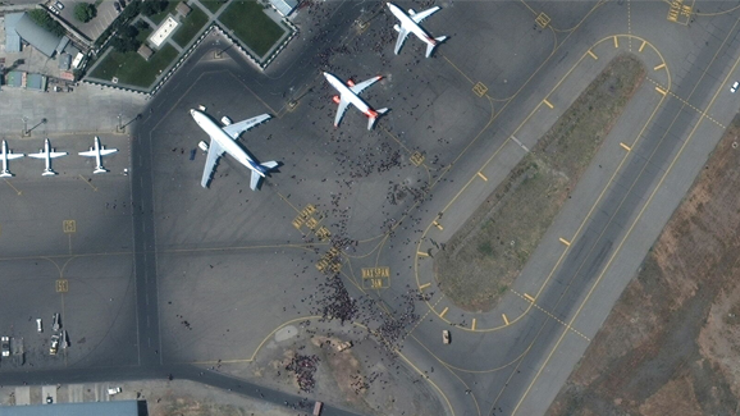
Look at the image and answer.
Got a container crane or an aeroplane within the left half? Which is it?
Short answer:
aeroplane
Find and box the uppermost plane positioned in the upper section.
[387,3,447,56]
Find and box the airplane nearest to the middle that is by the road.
[324,72,390,127]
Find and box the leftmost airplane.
[0,141,24,176]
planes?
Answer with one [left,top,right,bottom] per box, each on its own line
[77,136,118,173]
[324,72,390,127]
[387,3,447,56]
[27,139,67,176]
[190,109,279,191]
[0,141,24,176]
